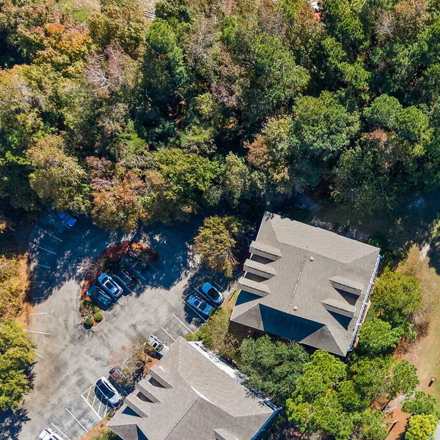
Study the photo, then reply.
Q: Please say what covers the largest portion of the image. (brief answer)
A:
trees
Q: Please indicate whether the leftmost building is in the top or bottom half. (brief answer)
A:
bottom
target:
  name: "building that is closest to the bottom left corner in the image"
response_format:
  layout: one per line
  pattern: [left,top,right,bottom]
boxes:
[108,333,286,440]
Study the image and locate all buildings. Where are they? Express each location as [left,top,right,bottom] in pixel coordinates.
[229,208,388,358]
[108,333,286,440]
